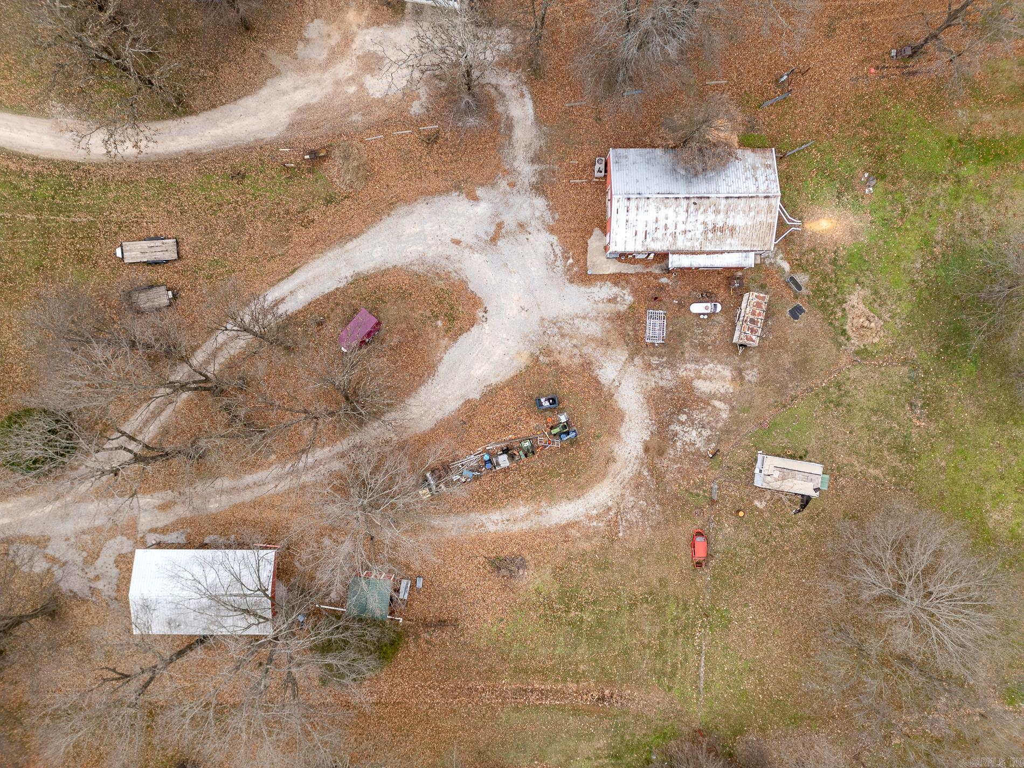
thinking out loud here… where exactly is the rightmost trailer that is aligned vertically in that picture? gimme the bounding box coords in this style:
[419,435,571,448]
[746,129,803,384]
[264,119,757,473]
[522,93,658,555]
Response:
[735,291,772,354]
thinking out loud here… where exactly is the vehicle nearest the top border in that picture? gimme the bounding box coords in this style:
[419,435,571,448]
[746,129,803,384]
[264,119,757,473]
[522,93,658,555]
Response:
[303,147,324,160]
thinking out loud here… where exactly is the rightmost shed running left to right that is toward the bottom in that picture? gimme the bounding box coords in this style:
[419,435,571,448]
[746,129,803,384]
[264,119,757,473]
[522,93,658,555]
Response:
[756,451,836,498]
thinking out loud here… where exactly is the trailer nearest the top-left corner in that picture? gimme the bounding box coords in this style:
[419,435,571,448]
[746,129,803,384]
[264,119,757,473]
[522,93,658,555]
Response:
[109,237,174,264]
